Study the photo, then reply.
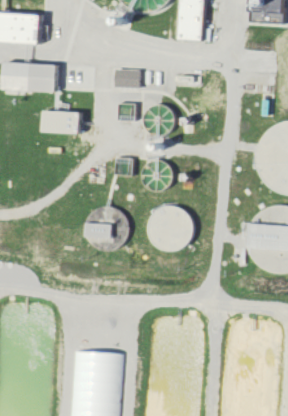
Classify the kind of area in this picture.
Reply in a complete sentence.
This image shows an industrial area.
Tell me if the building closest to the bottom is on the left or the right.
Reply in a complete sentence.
The building closest to the bottom appears in the left half of the scene.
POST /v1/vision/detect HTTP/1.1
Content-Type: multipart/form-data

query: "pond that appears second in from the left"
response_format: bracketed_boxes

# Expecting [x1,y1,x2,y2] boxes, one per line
[146,314,205,416]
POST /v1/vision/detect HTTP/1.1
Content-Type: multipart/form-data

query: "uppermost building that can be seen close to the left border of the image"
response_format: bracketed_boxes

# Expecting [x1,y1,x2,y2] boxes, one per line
[0,12,44,44]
